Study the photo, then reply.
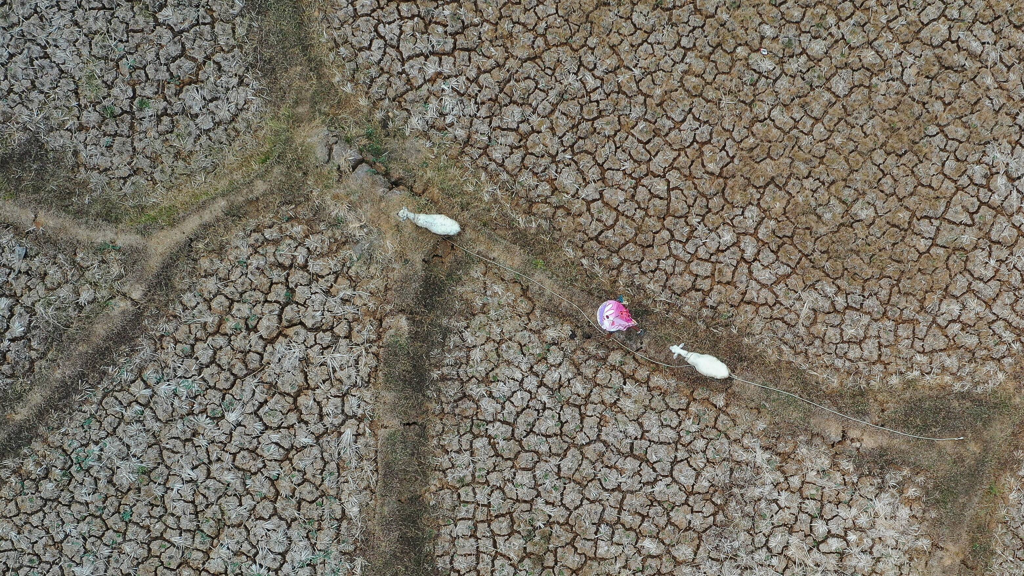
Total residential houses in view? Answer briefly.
0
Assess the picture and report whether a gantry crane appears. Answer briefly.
No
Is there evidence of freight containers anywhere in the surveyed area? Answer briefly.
No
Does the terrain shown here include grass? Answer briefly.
Yes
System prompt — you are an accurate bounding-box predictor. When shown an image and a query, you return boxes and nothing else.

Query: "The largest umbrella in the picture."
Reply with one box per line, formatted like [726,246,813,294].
[596,300,637,332]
